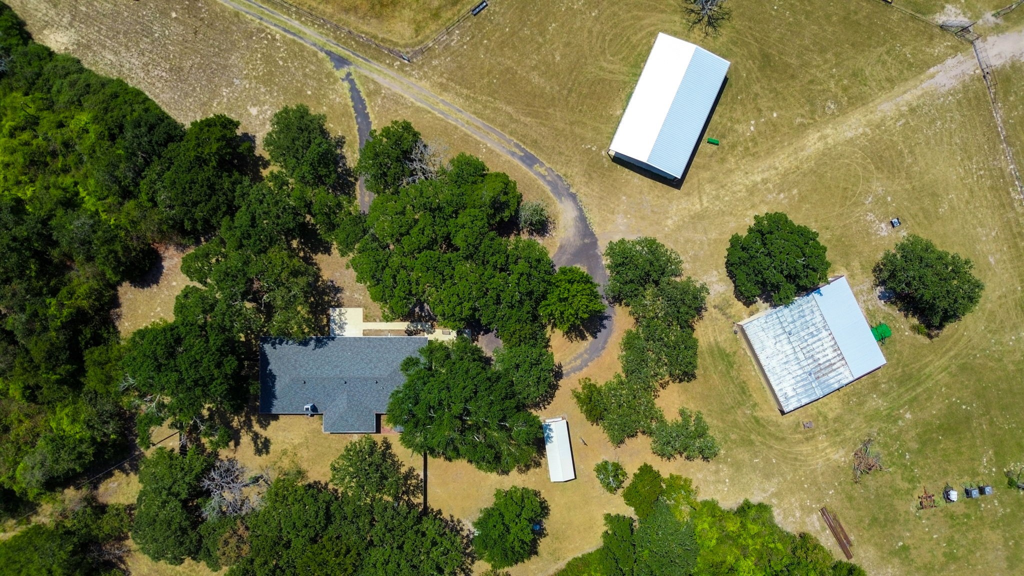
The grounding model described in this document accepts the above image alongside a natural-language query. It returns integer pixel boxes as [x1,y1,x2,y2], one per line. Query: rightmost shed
[736,275,886,412]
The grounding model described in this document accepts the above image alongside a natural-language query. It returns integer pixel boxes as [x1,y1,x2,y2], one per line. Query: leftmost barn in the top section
[607,32,730,182]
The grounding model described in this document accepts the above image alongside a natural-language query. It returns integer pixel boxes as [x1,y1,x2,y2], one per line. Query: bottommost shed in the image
[542,417,575,482]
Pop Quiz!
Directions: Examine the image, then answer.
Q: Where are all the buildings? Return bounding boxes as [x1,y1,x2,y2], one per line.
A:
[259,336,436,433]
[607,32,730,182]
[542,417,575,482]
[736,275,886,412]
